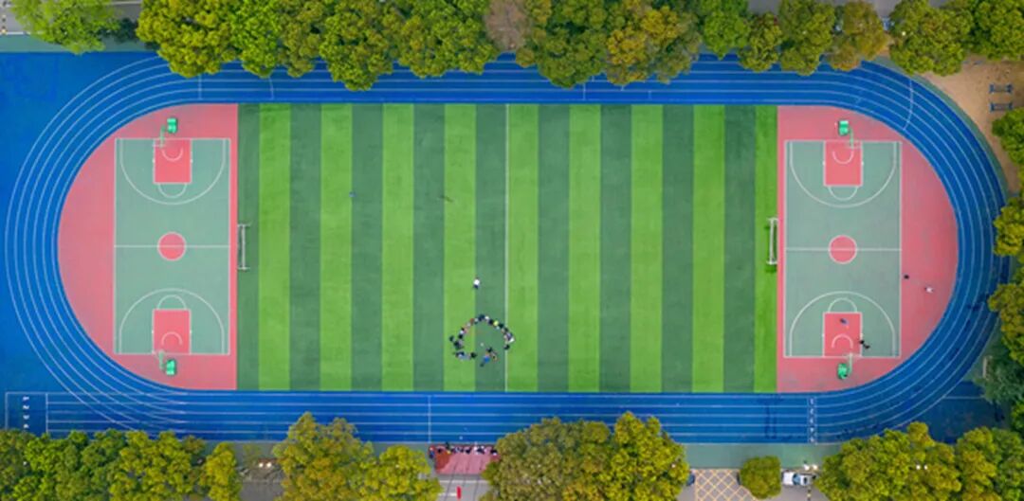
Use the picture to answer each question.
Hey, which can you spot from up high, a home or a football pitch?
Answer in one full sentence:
Visible in the photo is a football pitch.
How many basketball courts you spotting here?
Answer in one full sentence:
There are 2 basketball courts in the image.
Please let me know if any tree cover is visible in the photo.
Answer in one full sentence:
Yes, the picture does contain tree cover.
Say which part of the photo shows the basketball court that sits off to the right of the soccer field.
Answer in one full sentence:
The basketball court that sits off to the right of the soccer field is in the right part of the image.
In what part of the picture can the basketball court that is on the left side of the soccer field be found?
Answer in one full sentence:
You can find the basketball court that is on the left side of the soccer field in the left area of the picture.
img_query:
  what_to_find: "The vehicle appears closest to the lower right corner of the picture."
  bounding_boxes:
[786,473,819,490]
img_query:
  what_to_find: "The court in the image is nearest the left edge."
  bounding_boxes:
[58,103,238,390]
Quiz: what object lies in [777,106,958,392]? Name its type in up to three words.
basketball court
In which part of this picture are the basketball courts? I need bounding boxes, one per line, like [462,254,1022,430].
[777,106,958,392]
[58,103,238,390]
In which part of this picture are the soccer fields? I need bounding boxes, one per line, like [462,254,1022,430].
[236,103,778,392]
